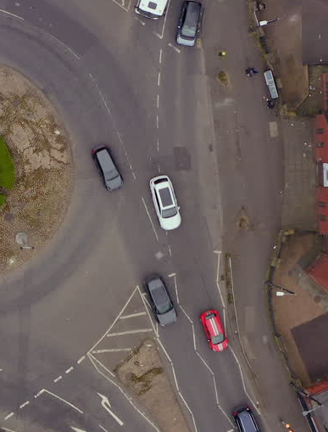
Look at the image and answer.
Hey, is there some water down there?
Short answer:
No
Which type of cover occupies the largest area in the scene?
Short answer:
paved ground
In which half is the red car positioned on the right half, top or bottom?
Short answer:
bottom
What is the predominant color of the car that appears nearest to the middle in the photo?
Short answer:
white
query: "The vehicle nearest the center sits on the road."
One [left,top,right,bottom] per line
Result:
[149,175,180,229]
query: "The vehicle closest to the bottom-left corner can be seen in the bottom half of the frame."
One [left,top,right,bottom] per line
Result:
[144,275,176,326]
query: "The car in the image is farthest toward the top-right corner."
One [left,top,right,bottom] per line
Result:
[175,0,201,48]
